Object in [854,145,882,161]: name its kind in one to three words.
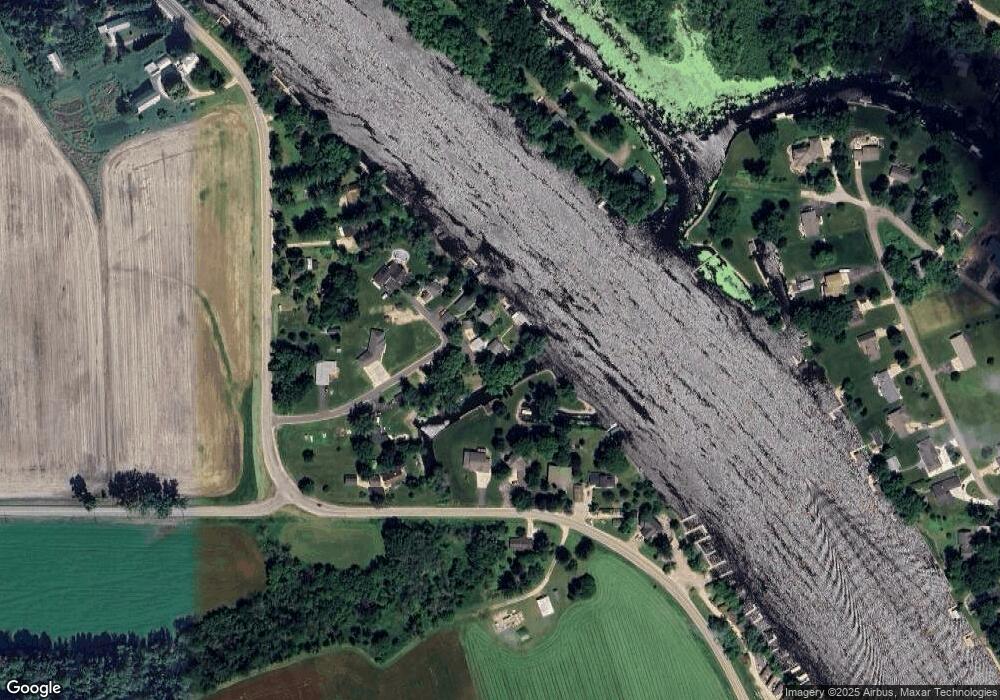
house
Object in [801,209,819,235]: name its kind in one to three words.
house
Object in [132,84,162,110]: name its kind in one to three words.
barn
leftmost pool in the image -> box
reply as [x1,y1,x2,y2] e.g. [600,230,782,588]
[392,245,409,264]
